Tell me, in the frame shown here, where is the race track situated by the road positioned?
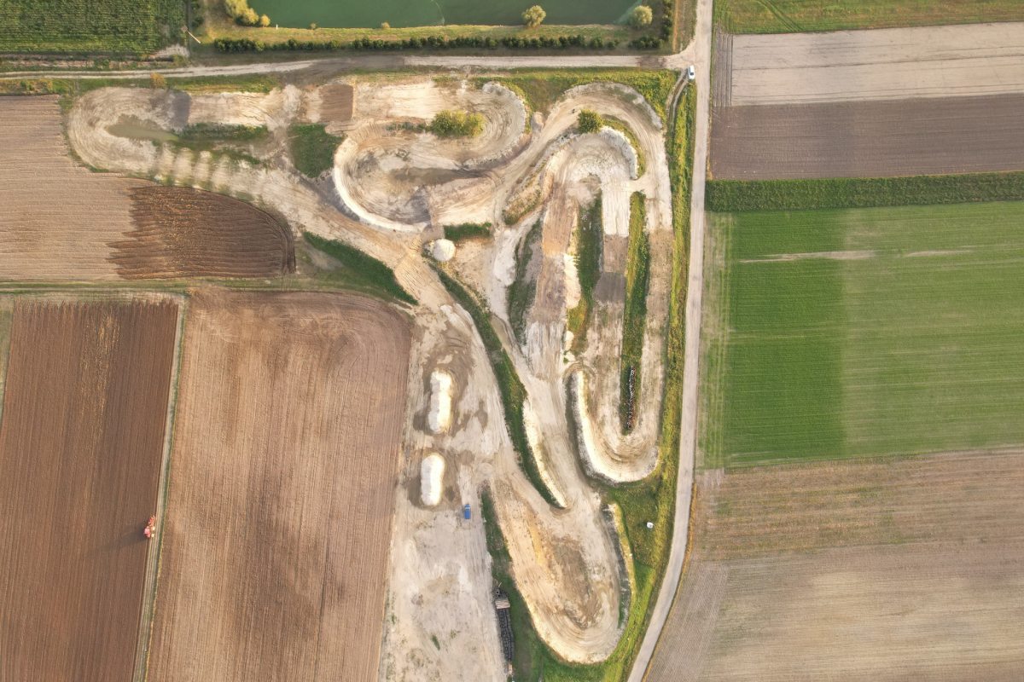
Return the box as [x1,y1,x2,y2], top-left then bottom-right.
[68,78,673,682]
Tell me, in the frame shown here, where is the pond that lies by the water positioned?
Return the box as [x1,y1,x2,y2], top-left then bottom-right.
[255,0,641,29]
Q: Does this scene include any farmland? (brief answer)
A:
Yes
